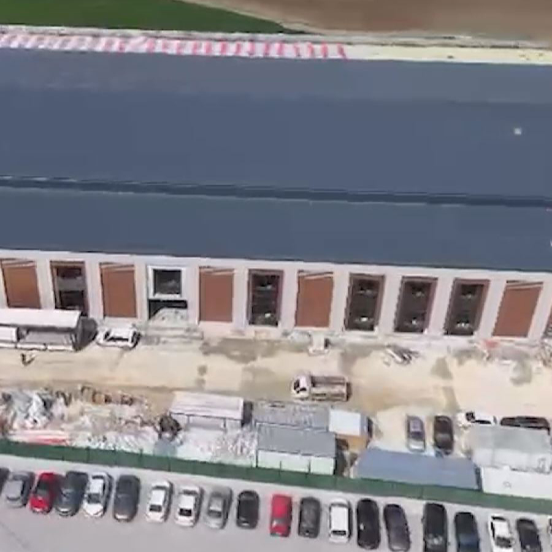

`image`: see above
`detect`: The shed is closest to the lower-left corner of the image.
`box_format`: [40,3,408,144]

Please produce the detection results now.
[170,392,243,439]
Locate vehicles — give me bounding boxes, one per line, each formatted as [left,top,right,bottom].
[109,471,143,524]
[55,469,87,520]
[144,480,174,526]
[451,508,483,552]
[174,483,202,529]
[267,489,293,543]
[485,511,519,552]
[383,501,412,552]
[1,467,37,513]
[417,499,453,552]
[202,481,231,534]
[97,327,140,350]
[82,469,113,520]
[28,469,63,515]
[404,412,429,452]
[233,486,261,534]
[451,407,507,430]
[504,412,552,436]
[353,496,383,552]
[512,513,546,552]
[327,494,354,549]
[430,414,457,454]
[297,496,322,543]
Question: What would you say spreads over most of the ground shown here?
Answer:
buildings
